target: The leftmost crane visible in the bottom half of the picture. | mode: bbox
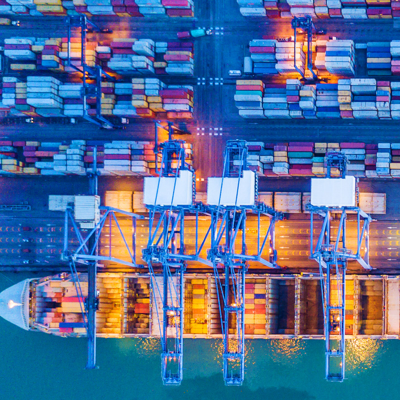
[54,145,154,366]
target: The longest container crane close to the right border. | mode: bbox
[309,153,382,382]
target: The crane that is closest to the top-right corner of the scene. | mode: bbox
[292,12,325,82]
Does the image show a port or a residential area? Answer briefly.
port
